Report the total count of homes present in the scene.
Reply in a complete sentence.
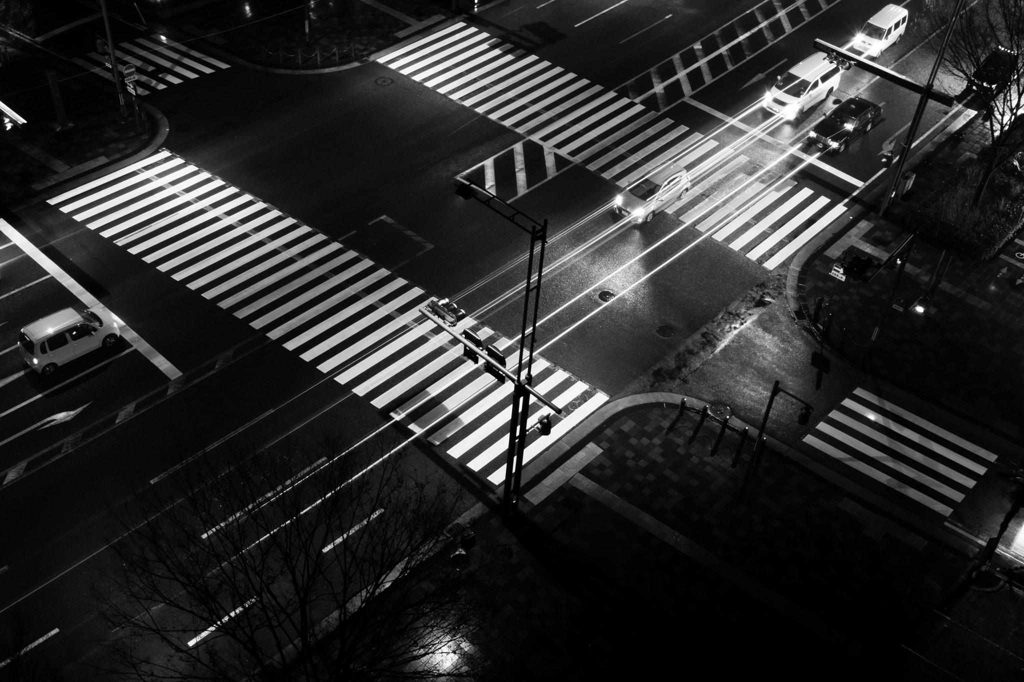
No homes are visible.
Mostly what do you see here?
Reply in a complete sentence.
The bulk of the photo consists of paved ground.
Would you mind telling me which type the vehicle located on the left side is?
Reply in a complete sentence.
The vehicle located on the left side is a car.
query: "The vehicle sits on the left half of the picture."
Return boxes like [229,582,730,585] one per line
[15,302,119,376]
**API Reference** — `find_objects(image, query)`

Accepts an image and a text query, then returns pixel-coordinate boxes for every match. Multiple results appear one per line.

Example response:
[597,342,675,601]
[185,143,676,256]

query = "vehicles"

[15,302,119,376]
[803,89,884,150]
[847,0,917,54]
[756,49,838,118]
[611,154,694,223]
